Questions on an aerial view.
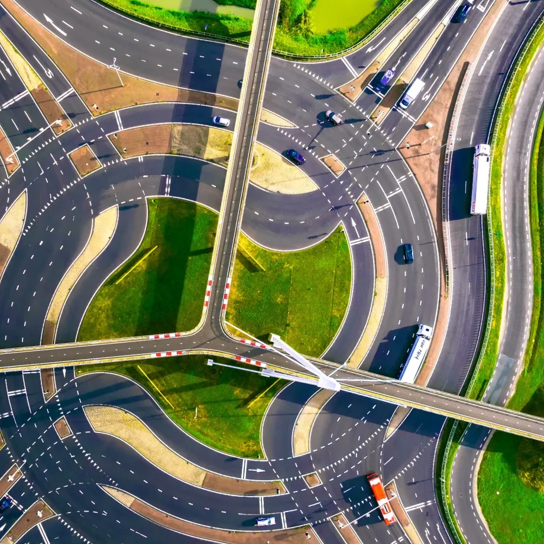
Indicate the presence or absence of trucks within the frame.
Yes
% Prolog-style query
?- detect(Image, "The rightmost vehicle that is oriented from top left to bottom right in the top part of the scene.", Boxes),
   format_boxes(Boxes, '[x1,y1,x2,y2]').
[323,109,343,127]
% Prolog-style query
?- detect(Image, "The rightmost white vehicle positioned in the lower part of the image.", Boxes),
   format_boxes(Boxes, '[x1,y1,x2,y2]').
[395,328,430,383]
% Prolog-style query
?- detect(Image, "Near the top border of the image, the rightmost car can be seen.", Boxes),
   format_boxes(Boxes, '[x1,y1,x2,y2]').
[455,0,471,21]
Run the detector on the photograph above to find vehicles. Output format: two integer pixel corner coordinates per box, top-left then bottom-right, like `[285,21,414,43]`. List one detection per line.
[323,109,343,127]
[233,79,244,88]
[286,149,305,164]
[395,328,430,383]
[400,79,423,107]
[0,494,12,512]
[377,66,395,90]
[403,244,412,263]
[367,471,396,526]
[470,146,489,216]
[211,115,230,126]
[255,516,275,526]
[455,0,471,21]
